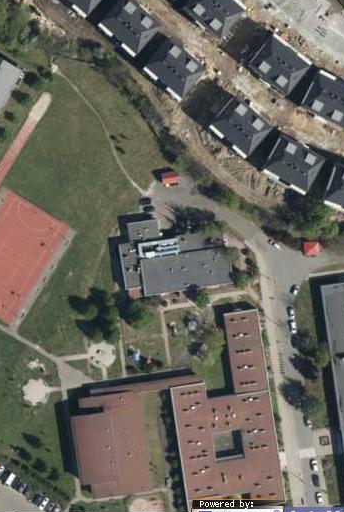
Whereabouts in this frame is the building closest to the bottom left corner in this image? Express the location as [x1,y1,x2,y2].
[69,392,152,498]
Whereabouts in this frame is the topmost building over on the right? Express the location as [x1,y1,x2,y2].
[182,0,249,39]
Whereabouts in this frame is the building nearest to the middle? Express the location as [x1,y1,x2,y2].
[117,220,234,296]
